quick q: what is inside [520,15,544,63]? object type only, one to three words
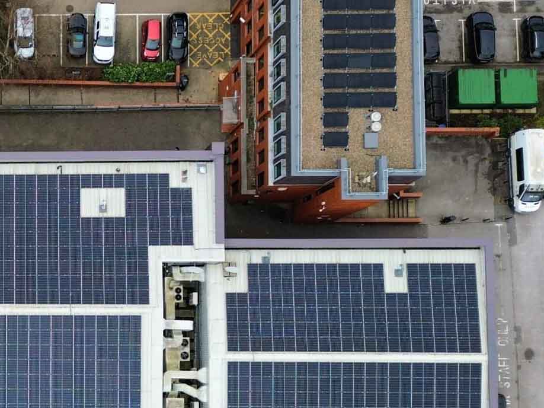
car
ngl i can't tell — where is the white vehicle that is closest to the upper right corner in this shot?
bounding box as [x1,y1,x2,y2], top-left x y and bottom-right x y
[508,130,544,211]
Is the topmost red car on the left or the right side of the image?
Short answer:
left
